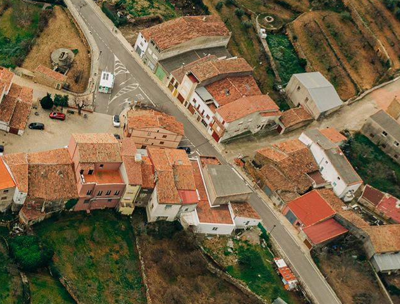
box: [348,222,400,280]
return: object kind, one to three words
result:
barn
